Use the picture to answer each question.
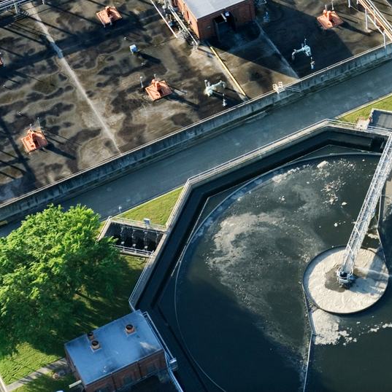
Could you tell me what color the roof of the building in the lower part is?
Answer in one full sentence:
From above, the roof of the building in the lower part looks blue.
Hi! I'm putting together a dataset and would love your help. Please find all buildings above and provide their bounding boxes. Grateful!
[63,311,163,392]
[174,0,253,40]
